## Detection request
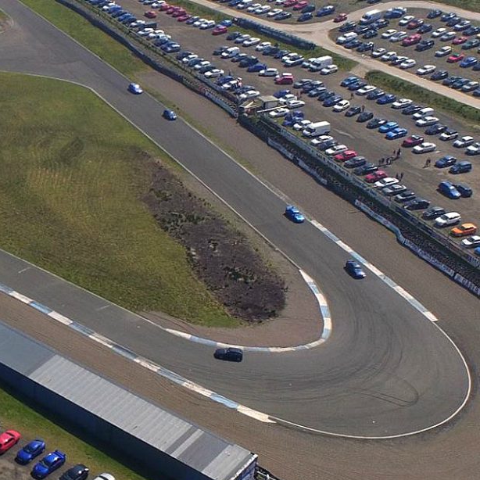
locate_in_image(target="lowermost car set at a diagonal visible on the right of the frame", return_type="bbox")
[340,258,369,280]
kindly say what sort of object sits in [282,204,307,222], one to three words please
car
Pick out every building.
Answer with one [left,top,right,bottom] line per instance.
[0,322,259,480]
[246,95,280,125]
